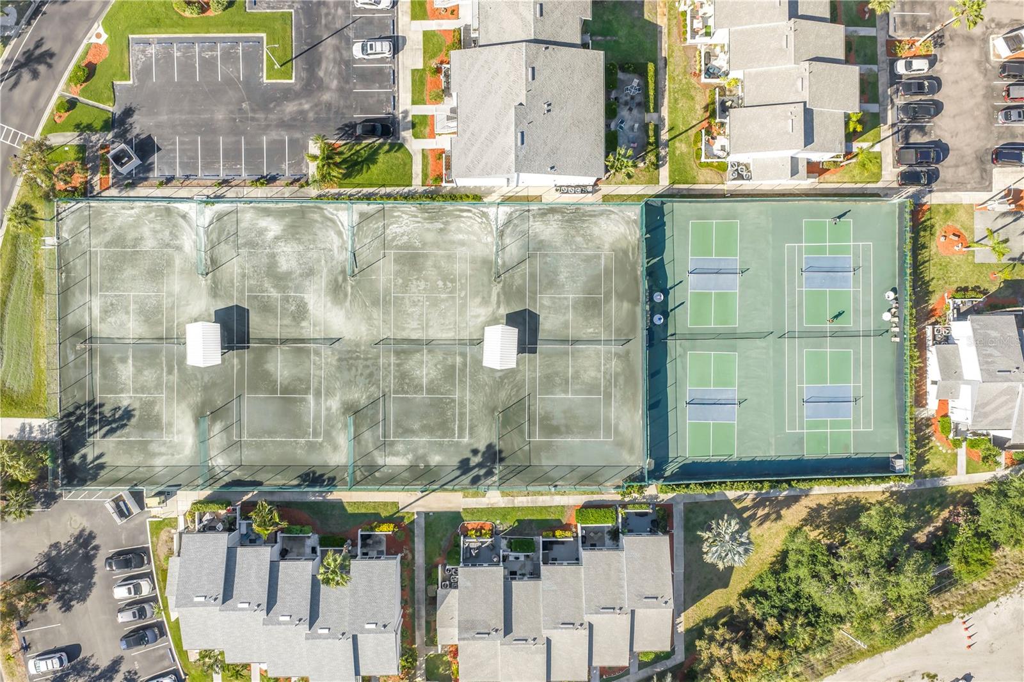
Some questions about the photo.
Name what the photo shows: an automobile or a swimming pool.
automobile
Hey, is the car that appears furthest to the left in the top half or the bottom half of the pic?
bottom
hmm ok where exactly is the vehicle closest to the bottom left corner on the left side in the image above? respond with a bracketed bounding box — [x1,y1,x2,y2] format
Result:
[29,651,71,674]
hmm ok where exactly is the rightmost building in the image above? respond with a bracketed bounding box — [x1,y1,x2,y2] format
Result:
[928,315,1024,447]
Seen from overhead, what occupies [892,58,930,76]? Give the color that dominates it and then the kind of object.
white car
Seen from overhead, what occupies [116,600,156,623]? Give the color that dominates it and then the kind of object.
gray car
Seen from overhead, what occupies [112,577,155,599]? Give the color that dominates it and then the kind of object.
white car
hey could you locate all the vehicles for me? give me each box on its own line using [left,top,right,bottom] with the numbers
[995,61,1024,80]
[897,78,937,97]
[353,39,393,59]
[105,551,150,572]
[995,107,1024,125]
[989,146,1024,166]
[112,577,155,599]
[355,121,395,140]
[119,625,163,649]
[29,651,71,674]
[1001,86,1024,104]
[895,167,934,185]
[116,600,156,623]
[892,58,930,76]
[894,146,942,166]
[896,103,936,121]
